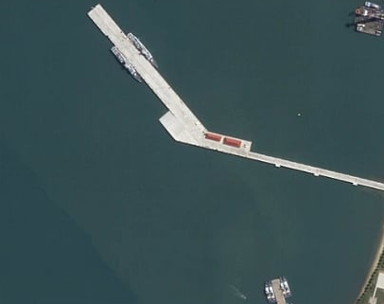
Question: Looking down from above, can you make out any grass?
No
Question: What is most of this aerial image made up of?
water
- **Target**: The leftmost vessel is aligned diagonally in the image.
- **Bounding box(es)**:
[110,47,141,82]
